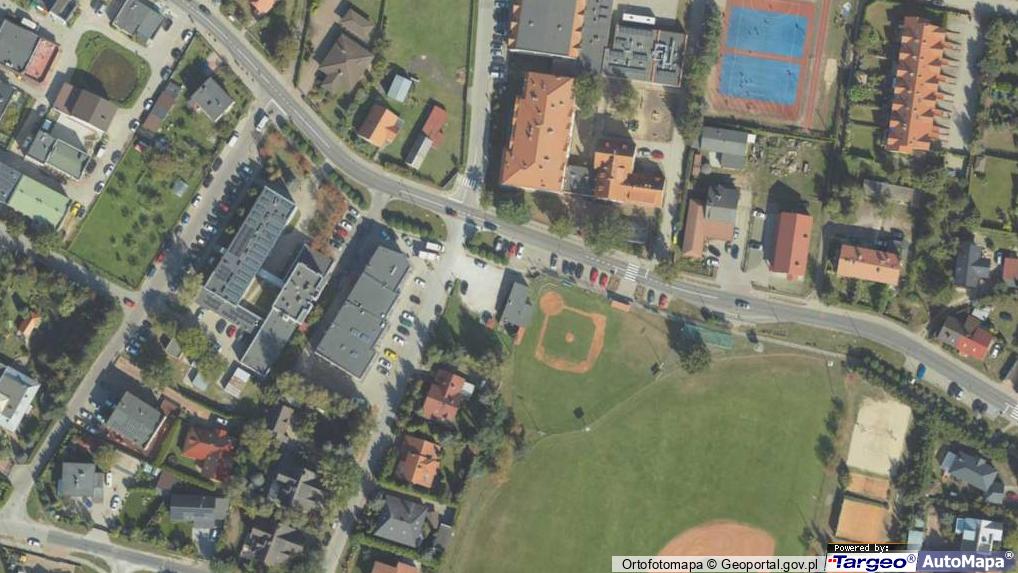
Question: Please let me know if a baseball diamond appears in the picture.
Yes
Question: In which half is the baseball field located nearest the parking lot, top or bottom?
bottom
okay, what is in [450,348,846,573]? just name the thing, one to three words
baseball field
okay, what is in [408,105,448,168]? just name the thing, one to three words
shed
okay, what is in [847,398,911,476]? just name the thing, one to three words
sports court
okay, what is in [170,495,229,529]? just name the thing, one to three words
house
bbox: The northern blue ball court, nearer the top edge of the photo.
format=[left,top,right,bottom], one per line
[728,7,808,57]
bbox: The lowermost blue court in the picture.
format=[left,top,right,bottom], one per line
[720,54,800,104]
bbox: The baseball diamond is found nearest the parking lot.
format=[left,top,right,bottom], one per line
[501,285,845,468]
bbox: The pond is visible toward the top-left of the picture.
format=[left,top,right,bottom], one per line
[91,49,138,98]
